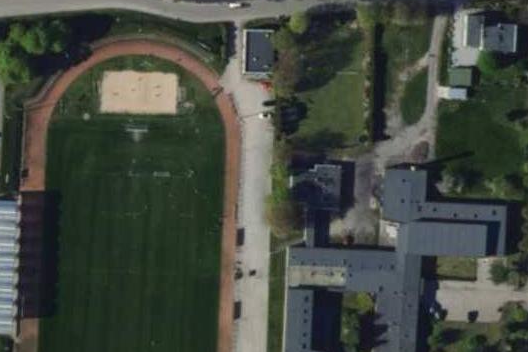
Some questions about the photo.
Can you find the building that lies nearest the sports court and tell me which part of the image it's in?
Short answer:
top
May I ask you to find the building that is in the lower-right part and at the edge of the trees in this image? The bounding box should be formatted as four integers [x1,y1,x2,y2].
[282,165,507,352]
